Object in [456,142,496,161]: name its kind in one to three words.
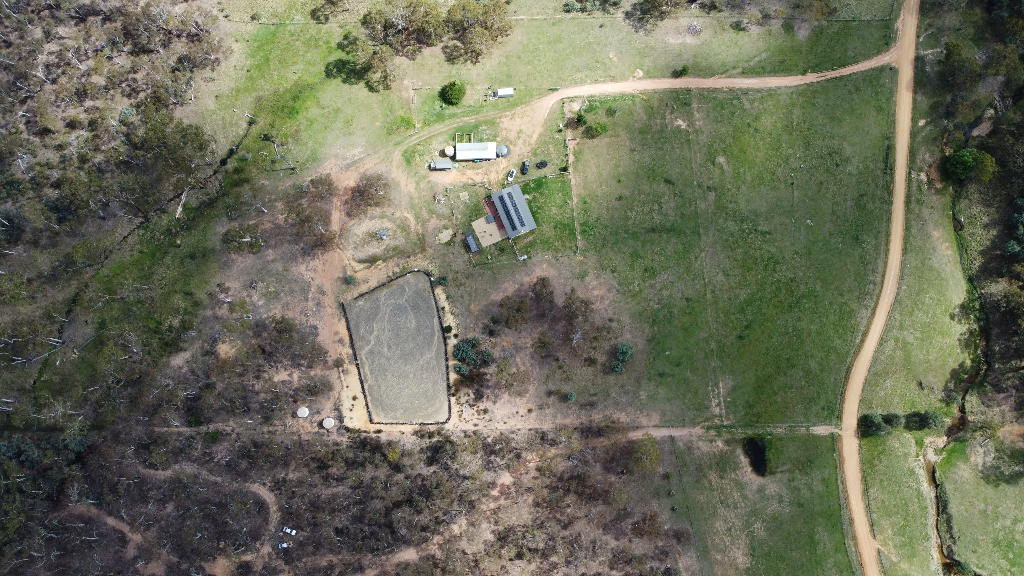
shed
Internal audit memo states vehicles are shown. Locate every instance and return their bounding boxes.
[508,168,516,181]
[523,159,530,173]
[277,541,293,550]
[282,527,296,535]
